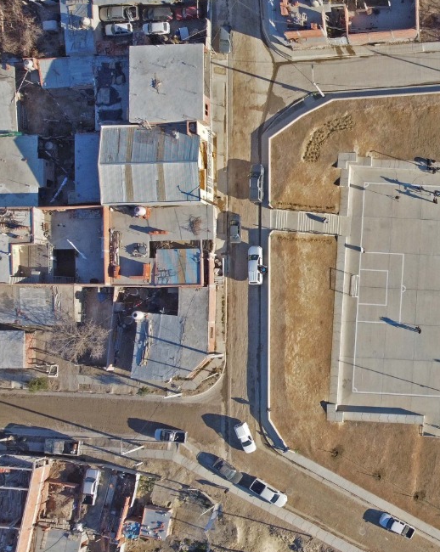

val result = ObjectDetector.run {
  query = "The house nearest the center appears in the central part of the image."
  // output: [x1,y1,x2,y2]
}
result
[154,248,204,284]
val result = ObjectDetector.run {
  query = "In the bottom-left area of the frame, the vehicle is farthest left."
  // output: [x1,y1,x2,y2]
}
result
[44,437,84,454]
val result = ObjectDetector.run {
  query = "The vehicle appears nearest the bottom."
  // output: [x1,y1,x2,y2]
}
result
[376,511,418,540]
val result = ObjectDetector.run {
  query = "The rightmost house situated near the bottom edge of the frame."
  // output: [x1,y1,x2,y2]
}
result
[139,501,180,539]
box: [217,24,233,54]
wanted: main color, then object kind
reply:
gray car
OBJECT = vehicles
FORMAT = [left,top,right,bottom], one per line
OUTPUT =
[152,427,189,444]
[248,476,290,507]
[233,418,257,456]
[376,511,418,540]
[99,5,139,22]
[82,466,103,505]
[170,3,201,20]
[217,24,233,54]
[247,246,265,284]
[104,21,134,38]
[44,437,84,454]
[142,20,171,37]
[226,213,242,242]
[208,455,246,485]
[248,163,266,204]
